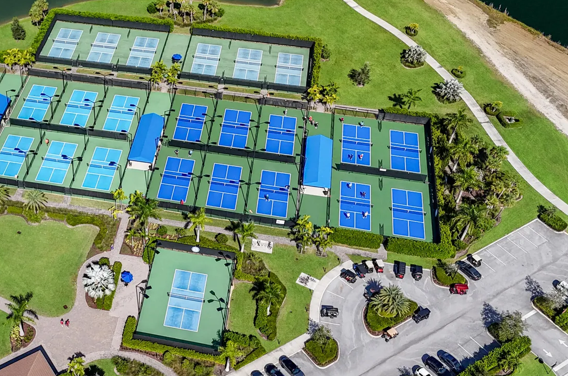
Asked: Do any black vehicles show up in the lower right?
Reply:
Yes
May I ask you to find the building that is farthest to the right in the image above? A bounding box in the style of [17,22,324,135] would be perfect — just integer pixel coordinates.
[301,135,333,199]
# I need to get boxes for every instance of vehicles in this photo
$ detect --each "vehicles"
[363,281,382,299]
[422,355,449,376]
[265,364,283,376]
[413,305,431,321]
[352,264,366,278]
[412,266,422,279]
[436,353,460,371]
[468,253,484,268]
[555,281,568,294]
[321,305,338,318]
[394,261,406,278]
[458,261,482,281]
[340,270,356,284]
[413,366,433,376]
[450,281,470,296]
[280,357,303,376]
[382,326,399,341]
[363,258,375,273]
[374,258,385,273]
